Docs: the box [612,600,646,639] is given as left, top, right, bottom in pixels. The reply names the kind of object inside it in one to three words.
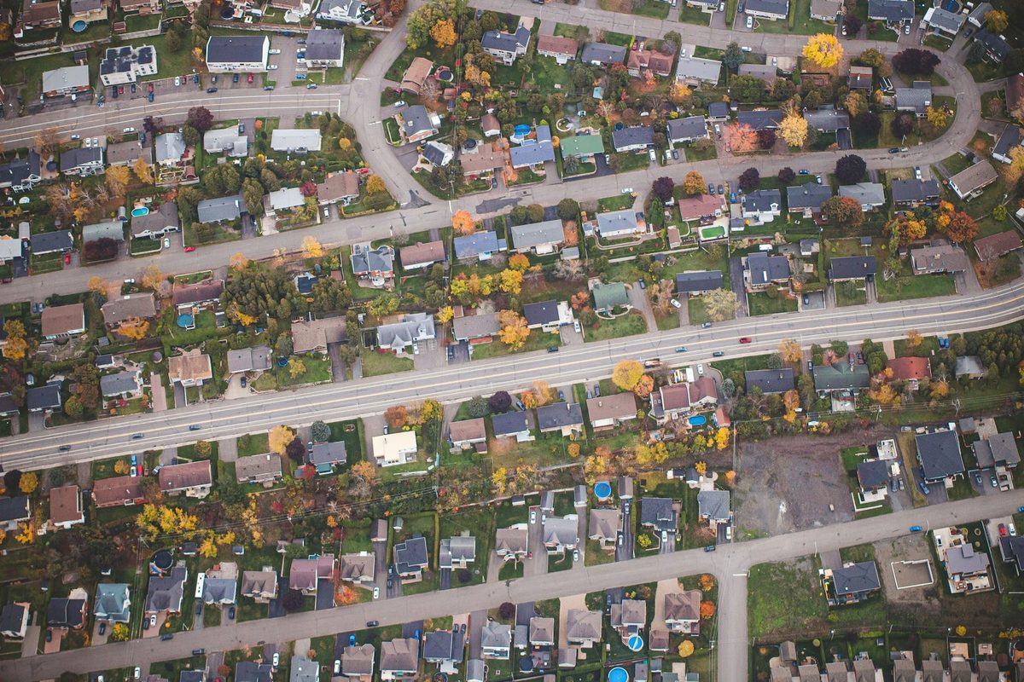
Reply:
house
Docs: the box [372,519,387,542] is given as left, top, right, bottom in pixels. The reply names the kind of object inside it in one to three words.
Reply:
building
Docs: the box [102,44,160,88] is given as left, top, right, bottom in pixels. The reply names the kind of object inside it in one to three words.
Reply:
building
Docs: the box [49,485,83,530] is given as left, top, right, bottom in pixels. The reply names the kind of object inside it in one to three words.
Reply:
house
